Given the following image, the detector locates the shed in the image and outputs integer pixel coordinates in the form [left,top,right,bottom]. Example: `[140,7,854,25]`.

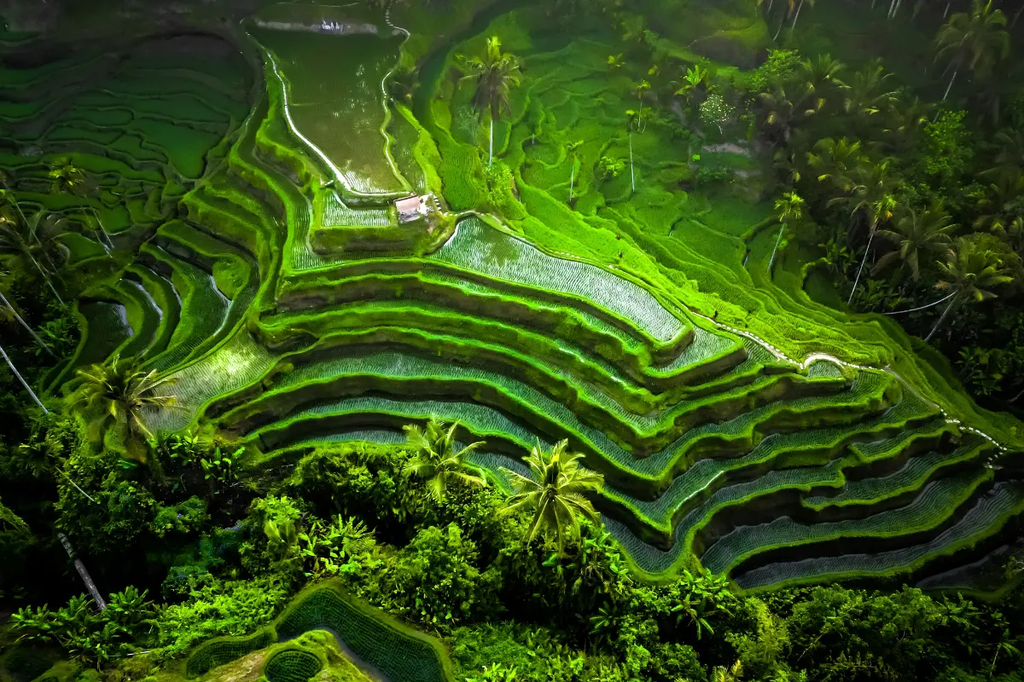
[394,199,421,222]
